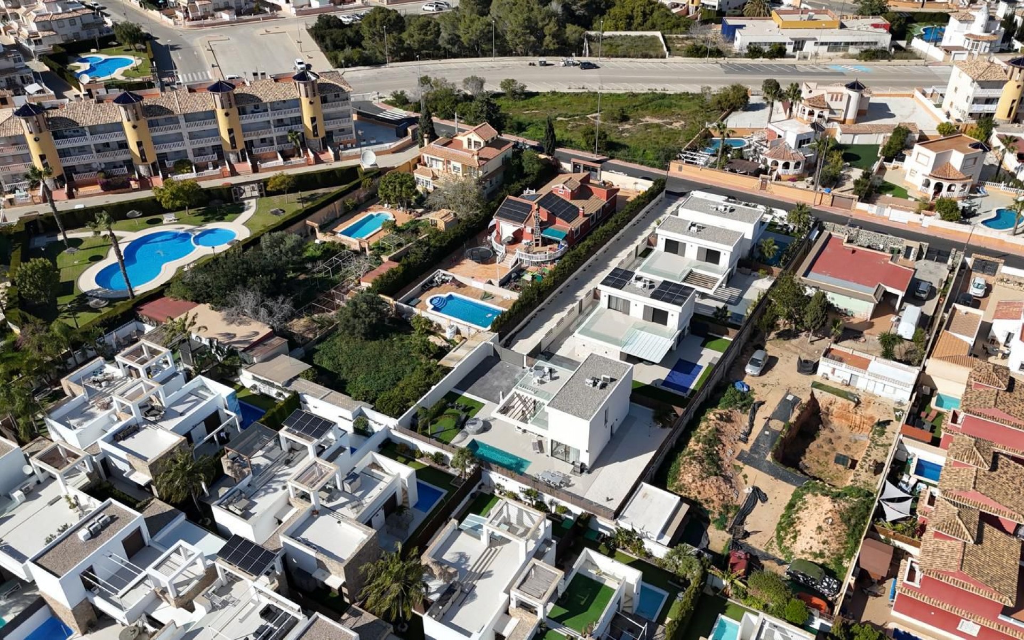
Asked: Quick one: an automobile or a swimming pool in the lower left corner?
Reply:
swimming pool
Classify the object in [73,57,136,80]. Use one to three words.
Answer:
swimming pool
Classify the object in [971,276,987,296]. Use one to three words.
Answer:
car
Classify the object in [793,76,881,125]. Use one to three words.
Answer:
house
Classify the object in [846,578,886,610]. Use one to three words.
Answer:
umbrella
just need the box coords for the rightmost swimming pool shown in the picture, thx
[977,206,1024,231]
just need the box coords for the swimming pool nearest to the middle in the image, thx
[427,291,507,328]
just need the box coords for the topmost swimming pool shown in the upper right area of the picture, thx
[921,27,943,42]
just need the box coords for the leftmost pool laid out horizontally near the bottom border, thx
[22,617,77,640]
